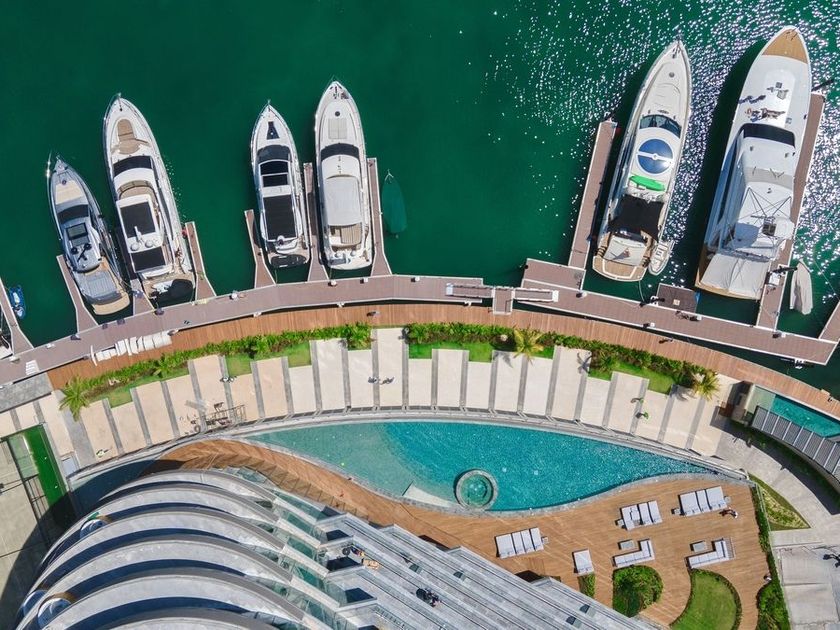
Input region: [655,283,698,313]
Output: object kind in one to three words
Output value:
pier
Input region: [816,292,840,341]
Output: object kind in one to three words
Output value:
pier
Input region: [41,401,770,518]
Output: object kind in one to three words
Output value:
swimming pool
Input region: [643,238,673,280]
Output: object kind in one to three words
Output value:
boat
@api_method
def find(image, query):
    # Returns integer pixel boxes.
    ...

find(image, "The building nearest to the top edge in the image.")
[718,382,754,427]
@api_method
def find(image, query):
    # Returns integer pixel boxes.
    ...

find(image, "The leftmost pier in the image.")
[0,264,38,354]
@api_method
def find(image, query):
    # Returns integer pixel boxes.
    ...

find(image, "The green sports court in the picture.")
[0,425,75,562]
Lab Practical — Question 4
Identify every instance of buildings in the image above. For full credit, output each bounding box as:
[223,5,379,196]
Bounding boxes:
[718,382,754,427]
[11,468,653,630]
